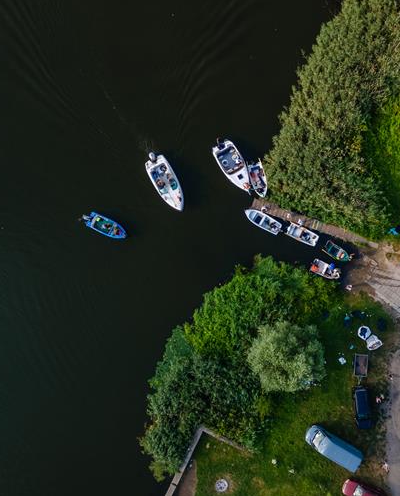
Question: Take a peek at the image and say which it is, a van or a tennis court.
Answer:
van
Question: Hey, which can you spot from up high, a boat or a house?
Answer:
boat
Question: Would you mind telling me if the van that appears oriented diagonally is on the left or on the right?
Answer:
right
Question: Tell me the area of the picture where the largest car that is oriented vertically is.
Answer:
bottom right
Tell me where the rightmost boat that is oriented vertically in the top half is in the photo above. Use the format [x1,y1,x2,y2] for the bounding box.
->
[245,160,266,197]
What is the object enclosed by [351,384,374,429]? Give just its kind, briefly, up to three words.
car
